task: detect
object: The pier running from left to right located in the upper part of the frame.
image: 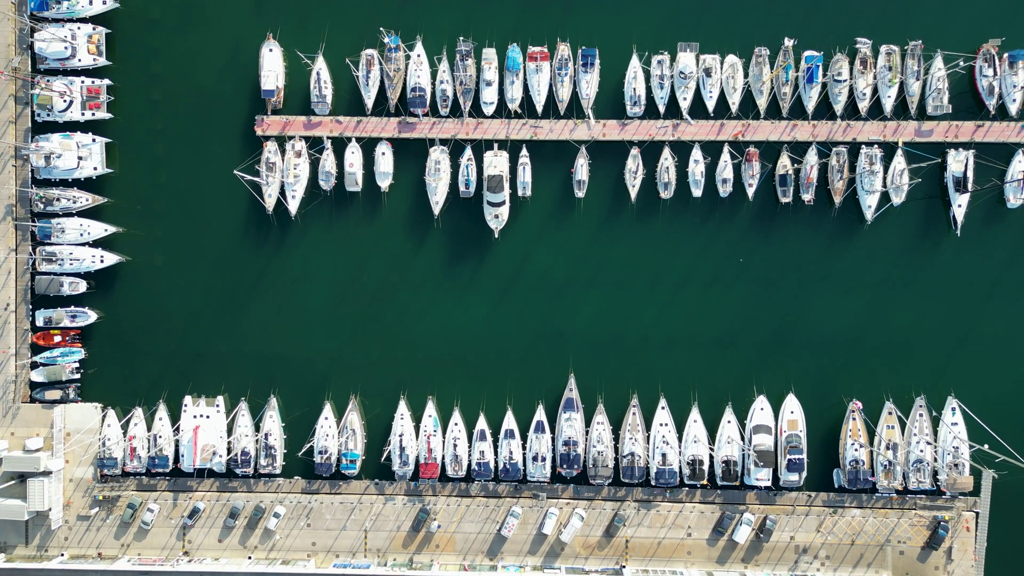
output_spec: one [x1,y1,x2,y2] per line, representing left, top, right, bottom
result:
[255,115,1024,144]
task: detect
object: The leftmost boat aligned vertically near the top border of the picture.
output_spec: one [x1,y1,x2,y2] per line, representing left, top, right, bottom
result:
[258,28,286,115]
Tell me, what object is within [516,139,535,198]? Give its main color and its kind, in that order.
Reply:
white boat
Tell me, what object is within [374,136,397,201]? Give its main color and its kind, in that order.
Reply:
white boat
